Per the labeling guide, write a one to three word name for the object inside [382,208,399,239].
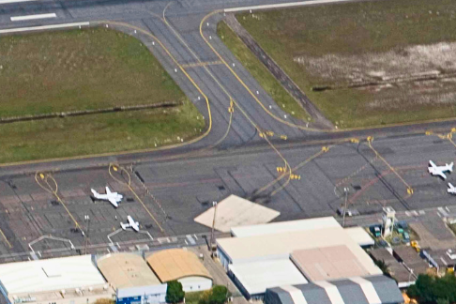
water tower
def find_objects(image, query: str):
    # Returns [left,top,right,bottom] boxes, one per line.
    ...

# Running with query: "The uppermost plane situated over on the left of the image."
[89,186,122,205]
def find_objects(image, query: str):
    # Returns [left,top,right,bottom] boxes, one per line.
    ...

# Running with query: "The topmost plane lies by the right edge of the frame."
[428,161,456,176]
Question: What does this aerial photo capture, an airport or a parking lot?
airport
